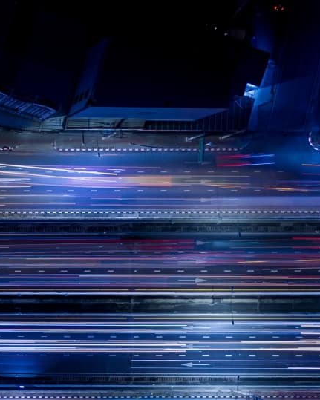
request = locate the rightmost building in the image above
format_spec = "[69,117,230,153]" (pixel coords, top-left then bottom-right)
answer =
[252,0,304,113]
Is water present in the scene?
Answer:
No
